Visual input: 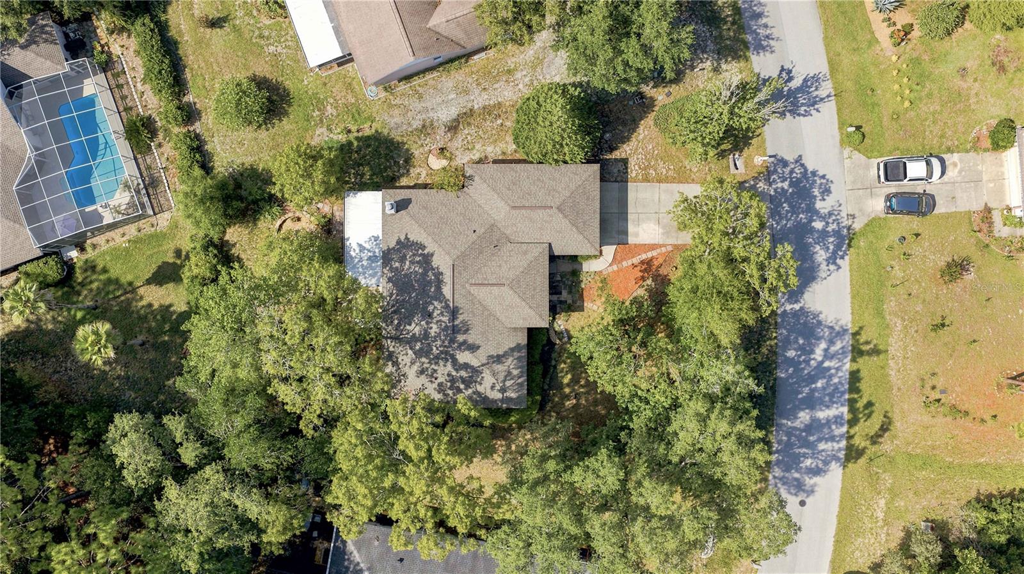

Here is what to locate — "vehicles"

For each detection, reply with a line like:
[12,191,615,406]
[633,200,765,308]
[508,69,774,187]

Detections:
[876,158,941,184]
[882,192,931,216]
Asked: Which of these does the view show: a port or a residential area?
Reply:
residential area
